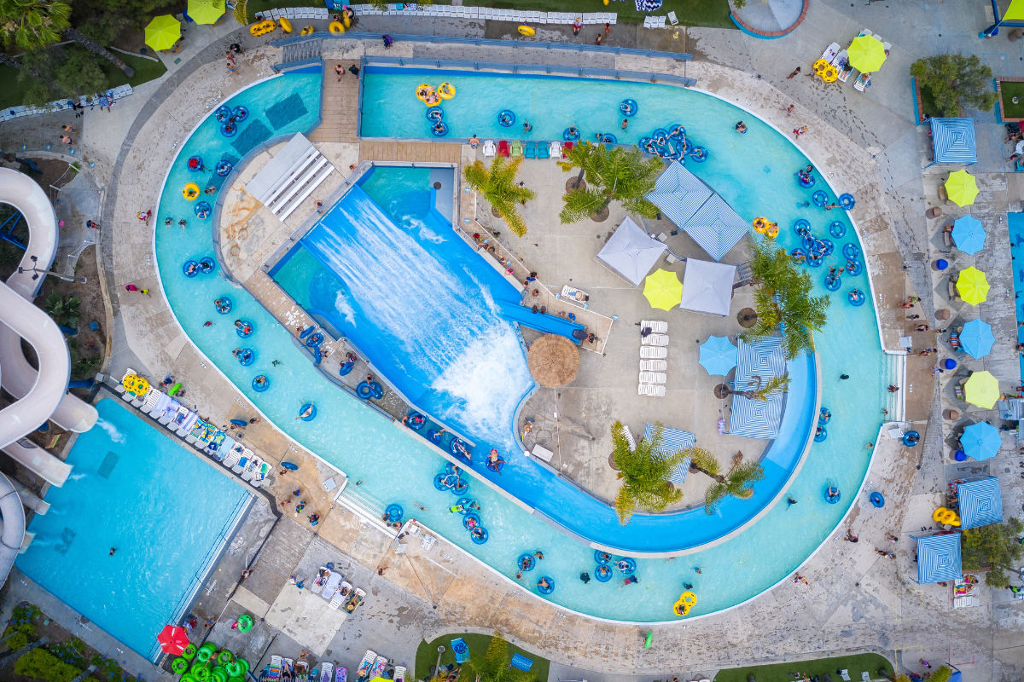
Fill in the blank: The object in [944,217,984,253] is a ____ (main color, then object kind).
blue umbrella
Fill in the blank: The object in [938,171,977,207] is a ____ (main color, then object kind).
green umbrella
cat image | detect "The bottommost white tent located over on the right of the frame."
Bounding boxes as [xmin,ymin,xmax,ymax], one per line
[671,257,735,318]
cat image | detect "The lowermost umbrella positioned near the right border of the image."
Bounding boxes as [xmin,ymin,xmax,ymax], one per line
[955,419,997,460]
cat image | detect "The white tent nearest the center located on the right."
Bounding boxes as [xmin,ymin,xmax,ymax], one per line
[593,217,667,290]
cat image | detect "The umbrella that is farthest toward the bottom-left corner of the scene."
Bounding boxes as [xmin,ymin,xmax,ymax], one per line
[161,622,194,654]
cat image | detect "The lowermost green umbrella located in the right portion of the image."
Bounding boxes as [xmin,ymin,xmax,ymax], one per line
[956,371,995,405]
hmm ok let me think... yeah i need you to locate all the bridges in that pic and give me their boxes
[312,56,362,139]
